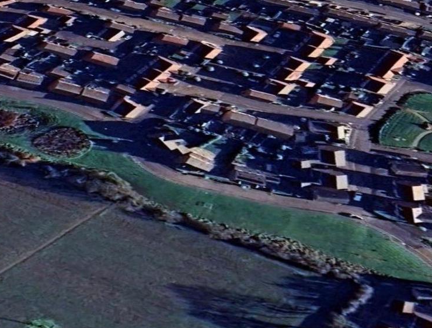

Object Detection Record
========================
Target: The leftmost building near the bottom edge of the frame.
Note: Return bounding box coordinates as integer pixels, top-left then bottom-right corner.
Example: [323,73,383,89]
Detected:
[389,302,415,320]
